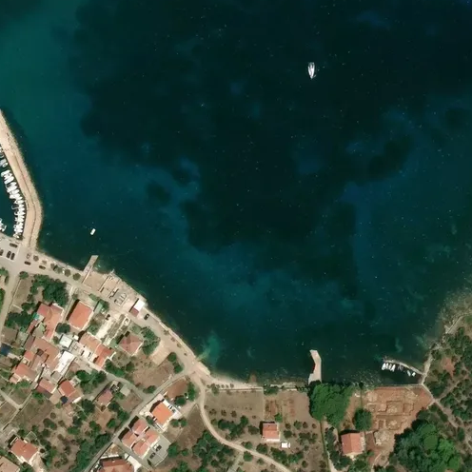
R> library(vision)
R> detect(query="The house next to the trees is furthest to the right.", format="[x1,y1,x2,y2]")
[340,431,366,457]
